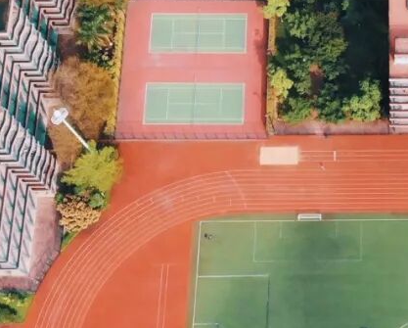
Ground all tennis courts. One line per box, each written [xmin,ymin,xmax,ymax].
[147,13,248,53]
[142,79,246,127]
